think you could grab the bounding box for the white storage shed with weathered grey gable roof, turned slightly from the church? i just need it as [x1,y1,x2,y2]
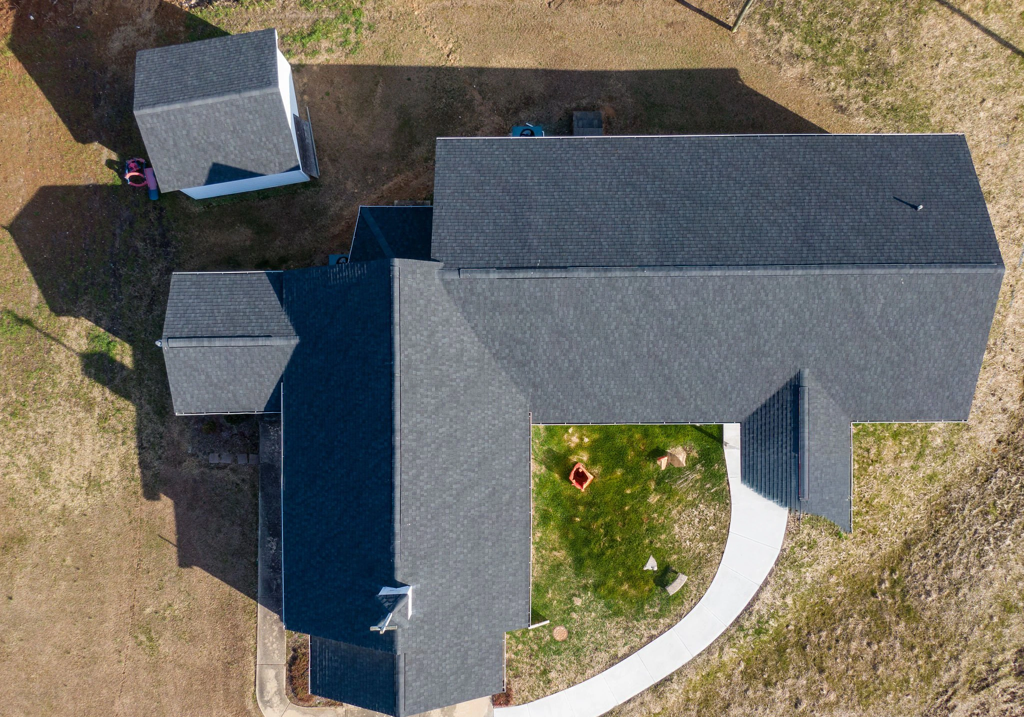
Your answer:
[133,30,312,201]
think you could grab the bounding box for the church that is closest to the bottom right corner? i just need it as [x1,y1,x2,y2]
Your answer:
[157,134,1006,717]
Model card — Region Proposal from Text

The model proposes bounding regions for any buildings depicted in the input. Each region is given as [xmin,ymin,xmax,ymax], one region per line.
[133,30,312,201]
[157,134,1006,717]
